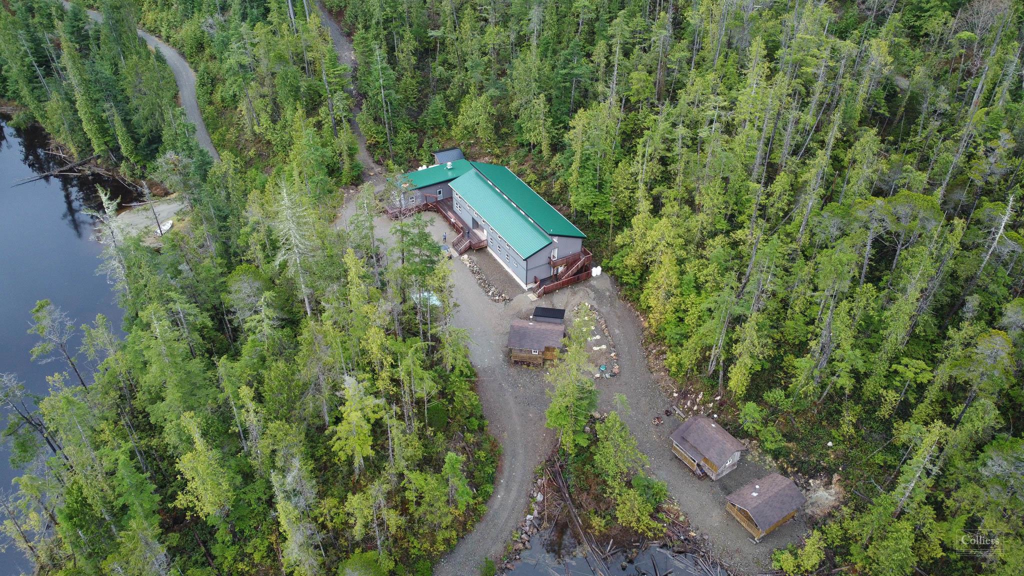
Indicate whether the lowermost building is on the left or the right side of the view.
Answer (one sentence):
It is on the right.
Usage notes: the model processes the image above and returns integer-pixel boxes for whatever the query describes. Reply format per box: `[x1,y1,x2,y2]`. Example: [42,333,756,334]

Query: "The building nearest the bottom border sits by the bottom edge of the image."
[724,471,808,555]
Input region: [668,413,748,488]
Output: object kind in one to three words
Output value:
building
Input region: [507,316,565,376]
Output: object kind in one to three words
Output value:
building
